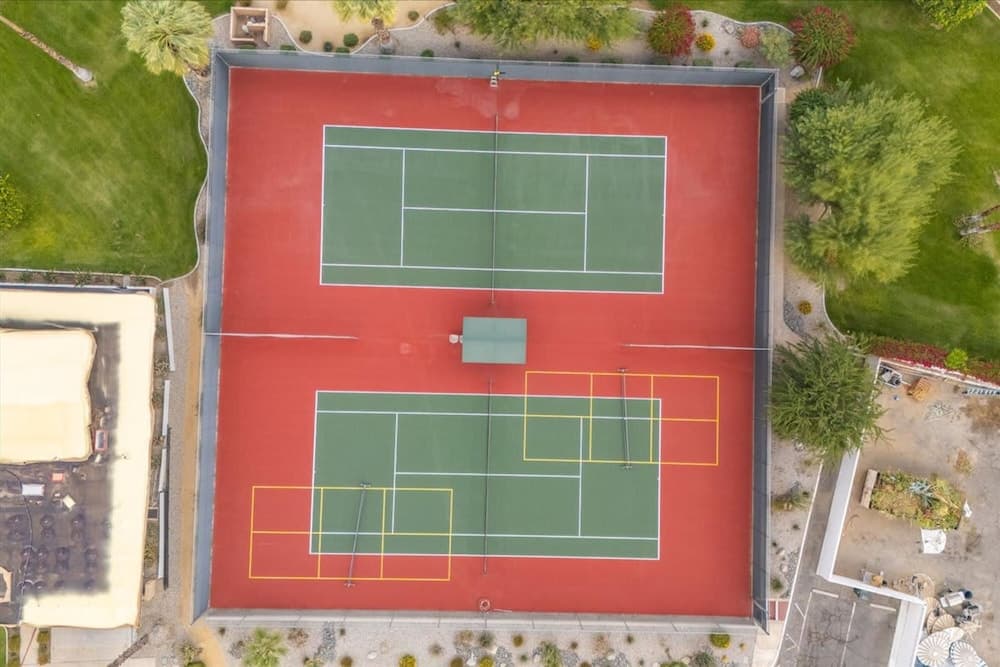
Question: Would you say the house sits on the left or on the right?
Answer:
left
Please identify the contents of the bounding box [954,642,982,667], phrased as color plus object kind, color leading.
white umbrella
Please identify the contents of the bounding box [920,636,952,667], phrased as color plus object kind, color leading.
white umbrella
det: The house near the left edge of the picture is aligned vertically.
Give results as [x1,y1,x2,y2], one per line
[0,290,159,632]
